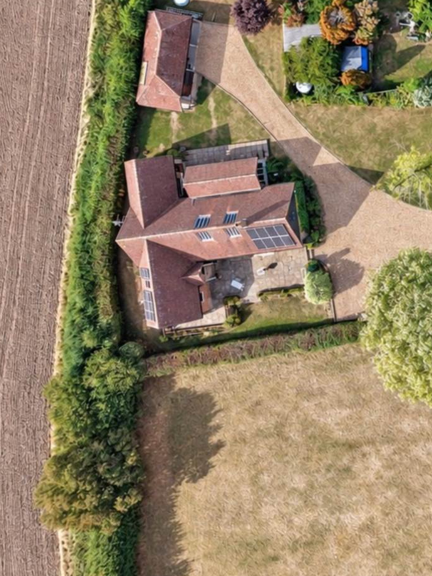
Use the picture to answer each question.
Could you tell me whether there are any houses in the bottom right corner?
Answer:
No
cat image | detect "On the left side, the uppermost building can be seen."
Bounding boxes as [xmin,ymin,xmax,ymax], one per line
[136,9,202,110]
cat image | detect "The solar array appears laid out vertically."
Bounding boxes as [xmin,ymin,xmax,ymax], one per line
[143,290,156,322]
